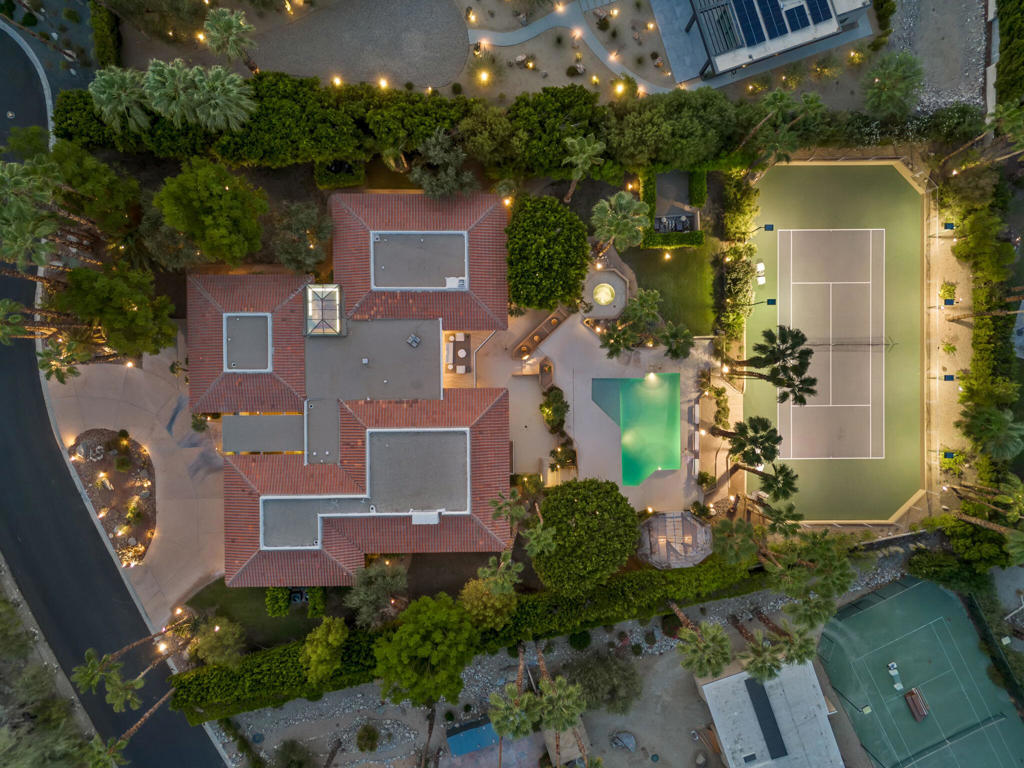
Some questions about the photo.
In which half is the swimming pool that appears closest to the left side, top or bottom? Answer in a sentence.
Seen from above, the swimming pool that appears closest to the left side lies in the bottom half of the view.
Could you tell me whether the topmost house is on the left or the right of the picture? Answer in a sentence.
It is on the right.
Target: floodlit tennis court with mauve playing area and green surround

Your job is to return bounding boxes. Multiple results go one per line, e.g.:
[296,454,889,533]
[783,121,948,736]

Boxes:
[739,158,927,527]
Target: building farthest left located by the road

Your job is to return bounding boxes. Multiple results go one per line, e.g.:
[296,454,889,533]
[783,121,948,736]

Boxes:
[185,191,513,588]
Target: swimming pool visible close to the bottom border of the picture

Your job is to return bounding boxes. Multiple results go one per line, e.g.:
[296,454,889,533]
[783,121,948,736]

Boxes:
[447,713,500,757]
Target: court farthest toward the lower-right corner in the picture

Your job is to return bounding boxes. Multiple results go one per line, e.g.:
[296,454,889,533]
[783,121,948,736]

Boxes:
[818,583,1024,768]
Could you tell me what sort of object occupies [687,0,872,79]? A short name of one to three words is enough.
house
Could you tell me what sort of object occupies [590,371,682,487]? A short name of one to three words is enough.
swimming pool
